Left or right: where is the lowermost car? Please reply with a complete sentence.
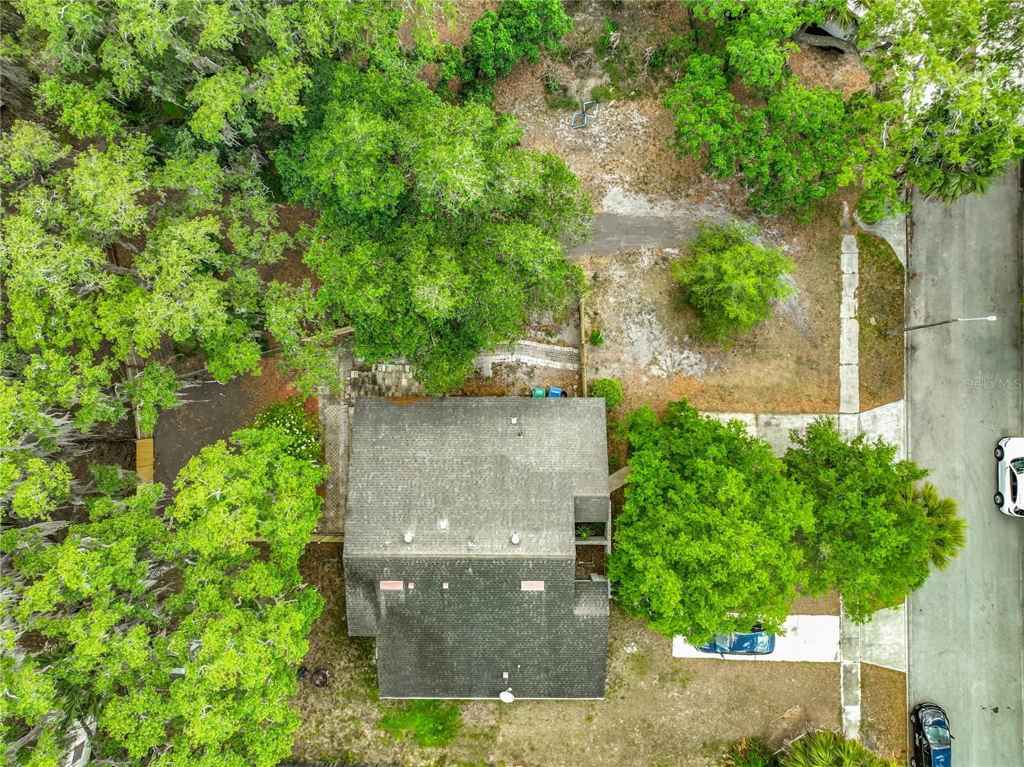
The lowermost car is on the right side of the image.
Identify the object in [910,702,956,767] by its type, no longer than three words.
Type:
car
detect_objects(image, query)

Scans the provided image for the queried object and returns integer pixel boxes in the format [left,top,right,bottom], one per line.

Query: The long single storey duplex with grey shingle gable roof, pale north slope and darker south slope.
[345,397,610,701]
